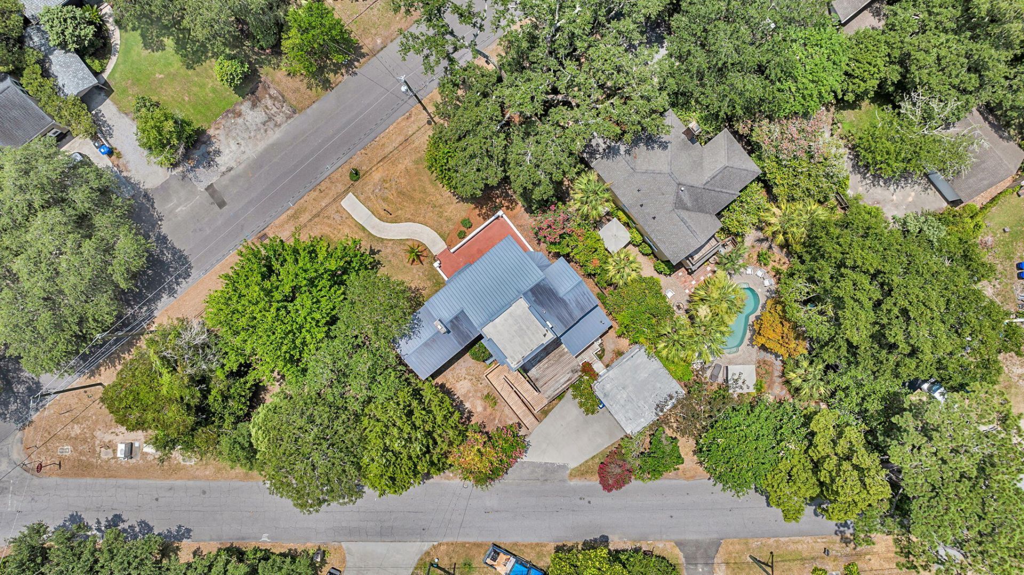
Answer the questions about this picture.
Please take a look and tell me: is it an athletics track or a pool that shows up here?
pool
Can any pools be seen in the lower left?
No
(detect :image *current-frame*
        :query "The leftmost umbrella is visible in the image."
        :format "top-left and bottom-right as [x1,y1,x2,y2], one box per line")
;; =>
[599,218,630,253]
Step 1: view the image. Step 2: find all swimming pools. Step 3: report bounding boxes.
[717,284,763,357]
